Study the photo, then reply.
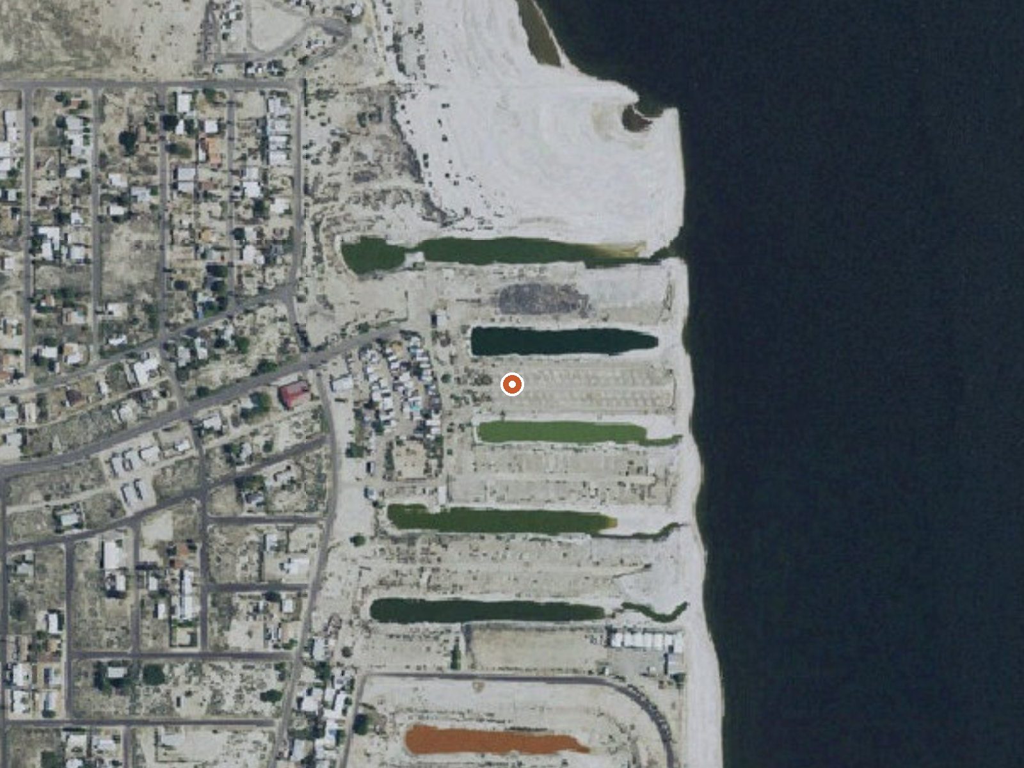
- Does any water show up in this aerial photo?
Yes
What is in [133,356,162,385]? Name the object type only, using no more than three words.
house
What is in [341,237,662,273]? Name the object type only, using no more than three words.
pond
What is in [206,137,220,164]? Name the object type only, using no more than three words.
house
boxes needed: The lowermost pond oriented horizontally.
[406,724,590,754]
